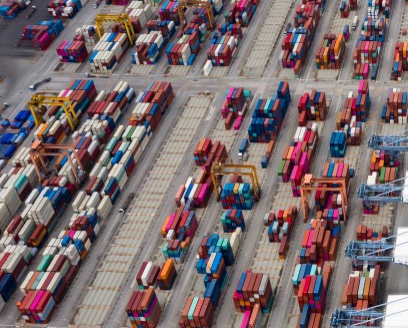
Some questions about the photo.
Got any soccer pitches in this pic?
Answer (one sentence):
No, there isn't any soccer pitch down there.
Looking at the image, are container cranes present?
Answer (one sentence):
Yes, I can see a container crane in this picture.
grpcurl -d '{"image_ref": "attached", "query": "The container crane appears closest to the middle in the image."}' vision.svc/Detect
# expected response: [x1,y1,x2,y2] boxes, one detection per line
[209,153,260,200]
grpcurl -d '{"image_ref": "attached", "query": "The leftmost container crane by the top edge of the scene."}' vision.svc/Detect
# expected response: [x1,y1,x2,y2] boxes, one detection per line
[93,4,135,40]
